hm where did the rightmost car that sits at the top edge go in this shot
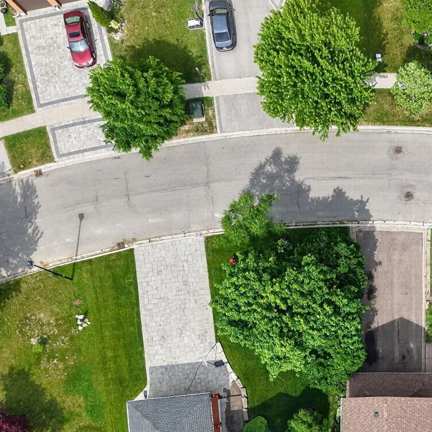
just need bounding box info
[208,0,237,52]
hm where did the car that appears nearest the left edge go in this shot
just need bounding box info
[63,12,96,67]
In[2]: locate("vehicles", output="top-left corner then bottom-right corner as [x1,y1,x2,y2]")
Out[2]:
[63,12,96,67]
[208,0,237,52]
